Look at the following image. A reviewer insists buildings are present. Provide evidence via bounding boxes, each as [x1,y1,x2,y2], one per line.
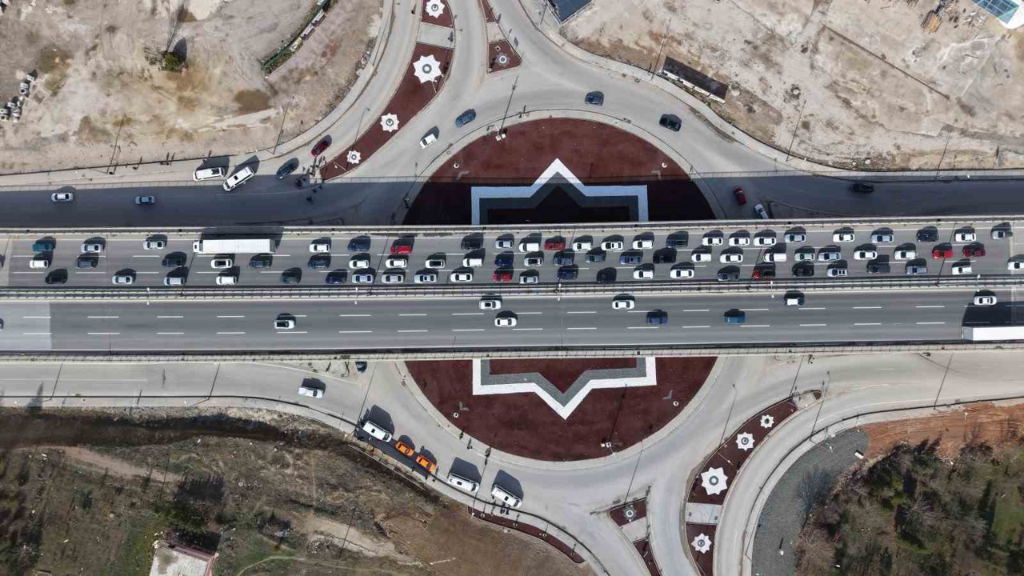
[969,0,1024,31]
[544,0,598,26]
[152,546,221,576]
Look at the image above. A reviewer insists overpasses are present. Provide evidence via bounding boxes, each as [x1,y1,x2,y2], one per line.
[0,215,1024,363]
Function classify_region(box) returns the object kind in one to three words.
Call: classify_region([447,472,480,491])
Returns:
vehicle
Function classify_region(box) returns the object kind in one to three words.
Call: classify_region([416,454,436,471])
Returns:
car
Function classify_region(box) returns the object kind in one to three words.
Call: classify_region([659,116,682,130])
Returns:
car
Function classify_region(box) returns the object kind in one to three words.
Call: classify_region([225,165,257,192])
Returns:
vehicle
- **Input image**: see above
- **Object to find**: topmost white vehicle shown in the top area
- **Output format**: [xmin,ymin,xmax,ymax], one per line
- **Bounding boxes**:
[420,131,438,146]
